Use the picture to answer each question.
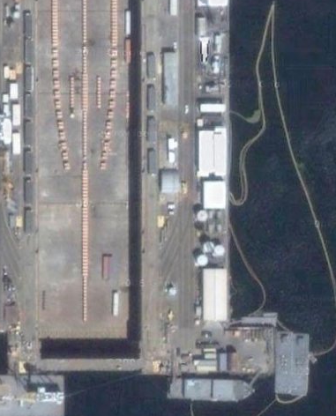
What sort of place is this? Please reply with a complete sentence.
It's a port.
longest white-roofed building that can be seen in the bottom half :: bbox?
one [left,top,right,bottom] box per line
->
[204,269,226,322]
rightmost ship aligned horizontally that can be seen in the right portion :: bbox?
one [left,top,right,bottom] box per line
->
[169,377,255,403]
